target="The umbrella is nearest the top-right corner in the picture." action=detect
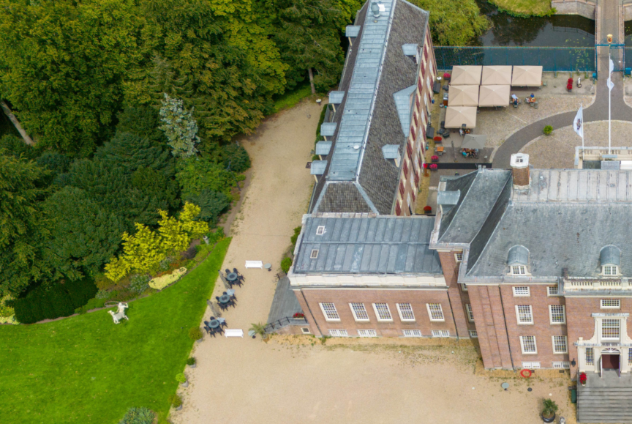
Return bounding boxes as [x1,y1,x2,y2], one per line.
[511,66,542,93]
